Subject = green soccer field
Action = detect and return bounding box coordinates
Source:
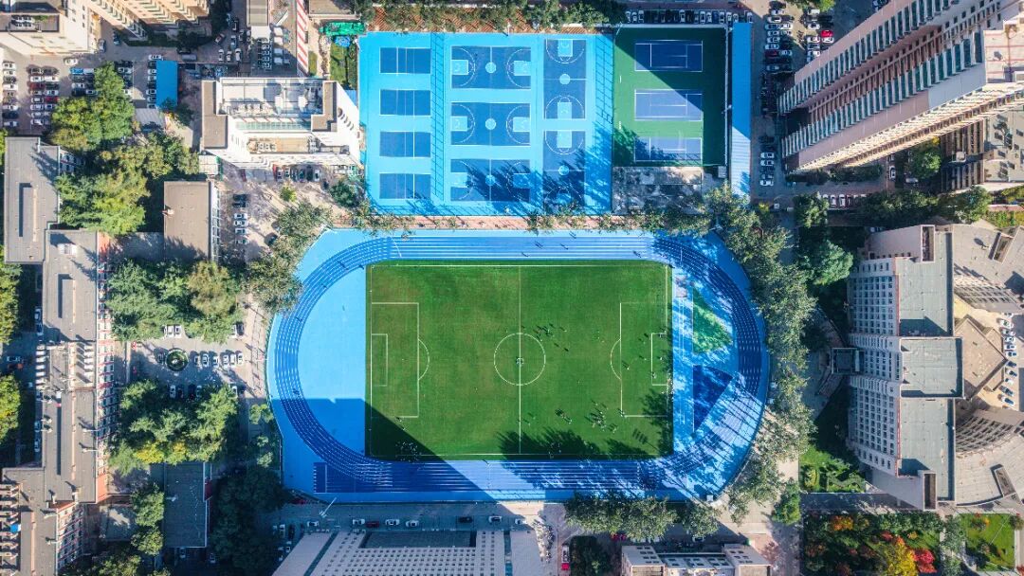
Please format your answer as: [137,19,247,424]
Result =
[366,260,673,461]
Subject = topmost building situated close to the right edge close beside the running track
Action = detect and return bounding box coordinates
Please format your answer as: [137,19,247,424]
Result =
[776,0,1024,184]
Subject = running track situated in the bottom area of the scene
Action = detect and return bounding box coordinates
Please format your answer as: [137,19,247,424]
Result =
[275,235,761,493]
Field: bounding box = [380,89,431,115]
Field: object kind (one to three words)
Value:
sports court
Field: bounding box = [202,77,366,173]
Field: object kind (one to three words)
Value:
building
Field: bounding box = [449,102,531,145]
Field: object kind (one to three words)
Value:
basketball court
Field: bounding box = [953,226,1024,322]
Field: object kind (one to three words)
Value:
building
